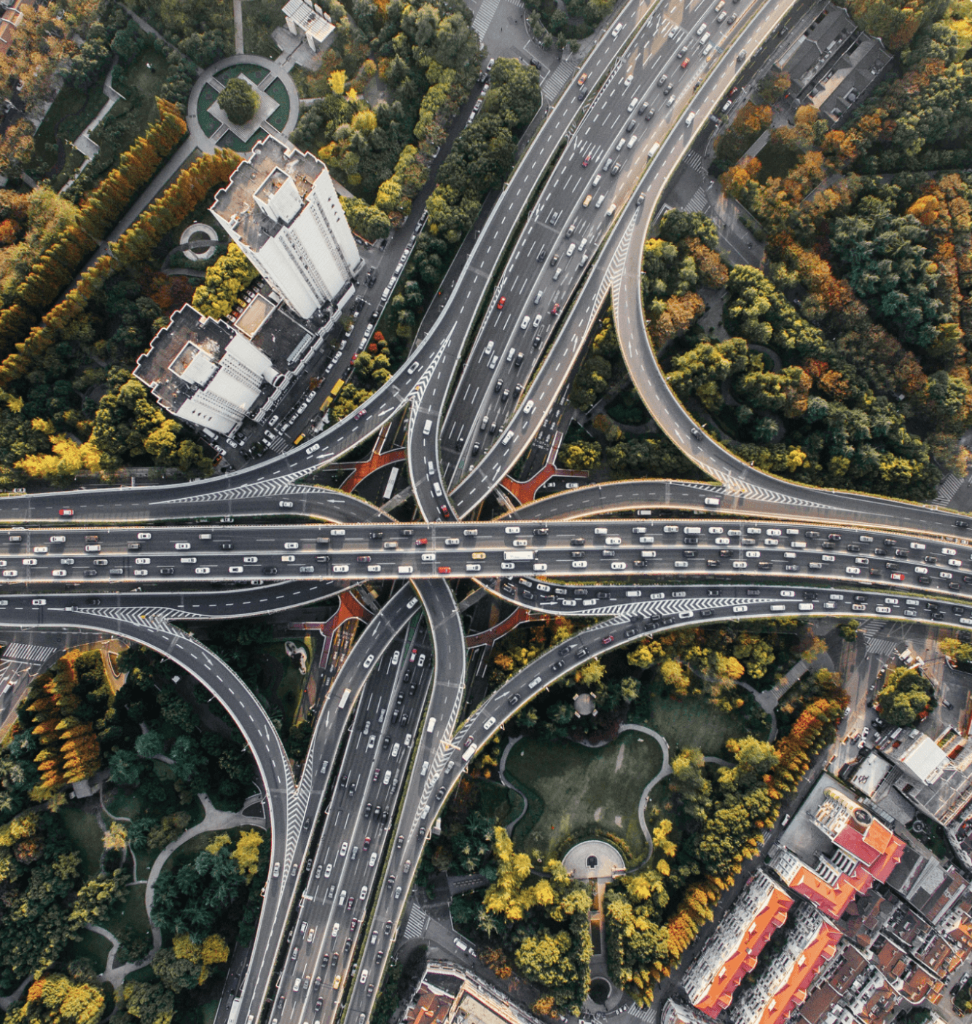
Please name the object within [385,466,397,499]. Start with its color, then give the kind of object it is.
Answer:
white vehicle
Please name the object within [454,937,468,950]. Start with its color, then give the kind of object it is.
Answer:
white vehicle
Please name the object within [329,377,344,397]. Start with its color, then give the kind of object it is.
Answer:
yellow vehicle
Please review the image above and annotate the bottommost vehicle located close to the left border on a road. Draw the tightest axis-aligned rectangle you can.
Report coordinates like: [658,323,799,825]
[3,679,17,693]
